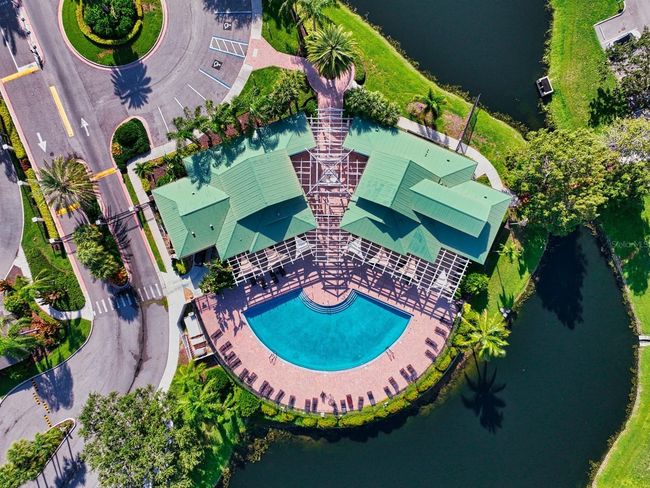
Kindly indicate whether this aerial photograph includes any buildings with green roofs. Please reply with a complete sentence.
Yes, there's a building with a green roof here.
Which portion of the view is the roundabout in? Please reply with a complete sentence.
The roundabout sits in the top left section of the image.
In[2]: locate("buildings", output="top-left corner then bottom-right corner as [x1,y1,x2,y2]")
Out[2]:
[340,113,514,264]
[152,112,318,260]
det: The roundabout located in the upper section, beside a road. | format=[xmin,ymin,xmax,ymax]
[57,0,166,71]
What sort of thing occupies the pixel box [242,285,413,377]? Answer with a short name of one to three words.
swimming pool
